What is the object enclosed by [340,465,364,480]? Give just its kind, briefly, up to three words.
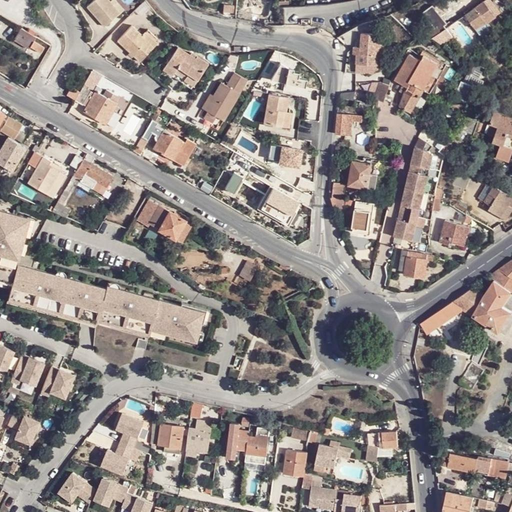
swimming pool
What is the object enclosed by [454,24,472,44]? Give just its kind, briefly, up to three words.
swimming pool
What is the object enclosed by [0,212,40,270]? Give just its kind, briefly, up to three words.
building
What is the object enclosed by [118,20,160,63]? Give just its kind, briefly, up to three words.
house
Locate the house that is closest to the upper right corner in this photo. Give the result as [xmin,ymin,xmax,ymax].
[465,0,498,32]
